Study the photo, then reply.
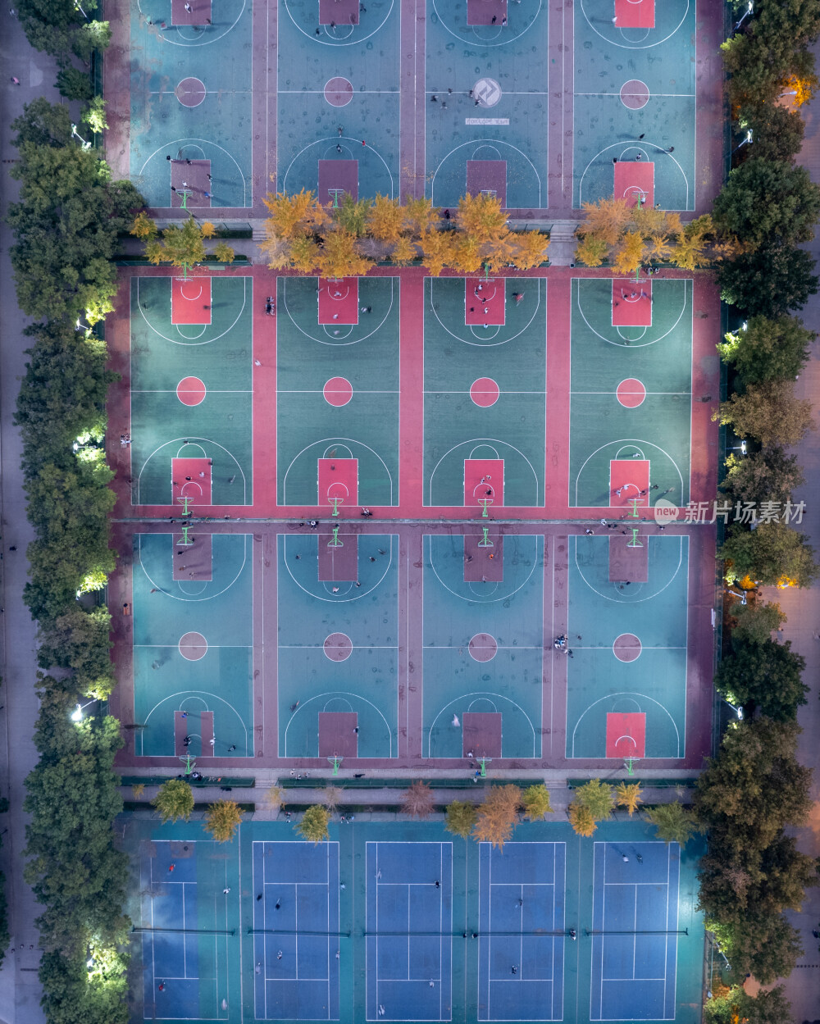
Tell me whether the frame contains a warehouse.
No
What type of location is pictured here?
sports ground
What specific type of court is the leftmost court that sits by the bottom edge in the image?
tennis court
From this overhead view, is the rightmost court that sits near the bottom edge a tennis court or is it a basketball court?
tennis court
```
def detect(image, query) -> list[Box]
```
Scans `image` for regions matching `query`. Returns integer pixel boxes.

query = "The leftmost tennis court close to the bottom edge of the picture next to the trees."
[140,839,229,1022]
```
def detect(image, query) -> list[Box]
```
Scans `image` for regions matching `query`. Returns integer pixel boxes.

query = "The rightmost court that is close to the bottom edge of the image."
[589,840,679,1022]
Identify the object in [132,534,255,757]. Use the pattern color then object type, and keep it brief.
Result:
blue basketball court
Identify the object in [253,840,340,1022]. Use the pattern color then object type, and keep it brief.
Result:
blue tennis court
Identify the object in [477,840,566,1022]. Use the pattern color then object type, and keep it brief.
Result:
blue tennis court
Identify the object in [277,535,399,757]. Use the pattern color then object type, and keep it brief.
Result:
blue basketball court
